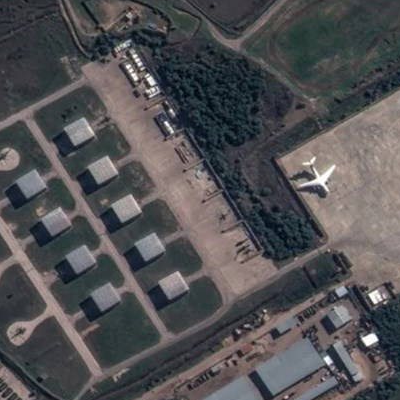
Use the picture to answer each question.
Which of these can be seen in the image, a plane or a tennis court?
plane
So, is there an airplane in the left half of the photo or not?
No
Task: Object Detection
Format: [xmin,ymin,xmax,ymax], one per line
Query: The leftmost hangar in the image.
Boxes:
[17,170,47,199]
